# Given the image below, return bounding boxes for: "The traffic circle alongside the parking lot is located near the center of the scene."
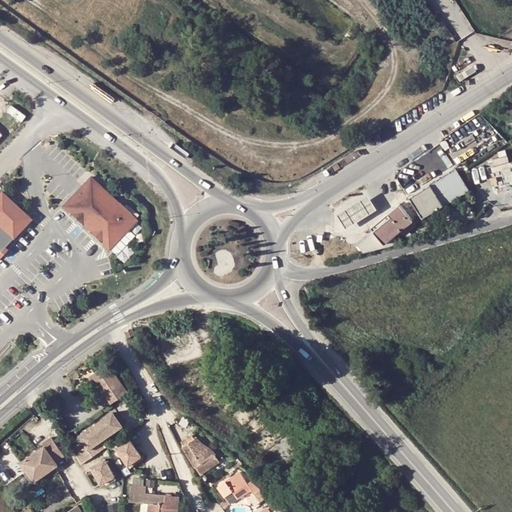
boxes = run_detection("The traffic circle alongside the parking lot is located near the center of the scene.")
[174,197,282,305]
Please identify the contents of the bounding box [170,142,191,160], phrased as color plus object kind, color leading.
white vehicle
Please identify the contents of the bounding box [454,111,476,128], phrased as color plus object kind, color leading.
white vehicle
